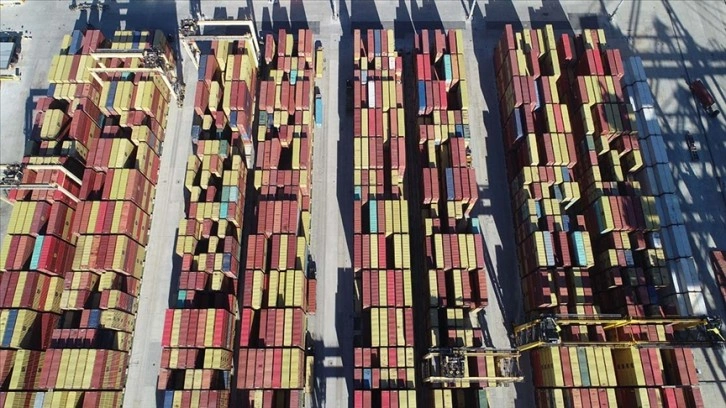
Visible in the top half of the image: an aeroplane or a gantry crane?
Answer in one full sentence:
Looking in the top half of the image, you will find a gantry crane.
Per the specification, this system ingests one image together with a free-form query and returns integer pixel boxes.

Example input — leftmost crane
[0,162,83,205]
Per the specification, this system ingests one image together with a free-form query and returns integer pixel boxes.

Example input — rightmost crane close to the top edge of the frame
[178,14,265,76]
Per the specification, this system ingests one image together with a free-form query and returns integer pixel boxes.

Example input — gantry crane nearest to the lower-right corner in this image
[603,314,726,351]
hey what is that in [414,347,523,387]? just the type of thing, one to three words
container crane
